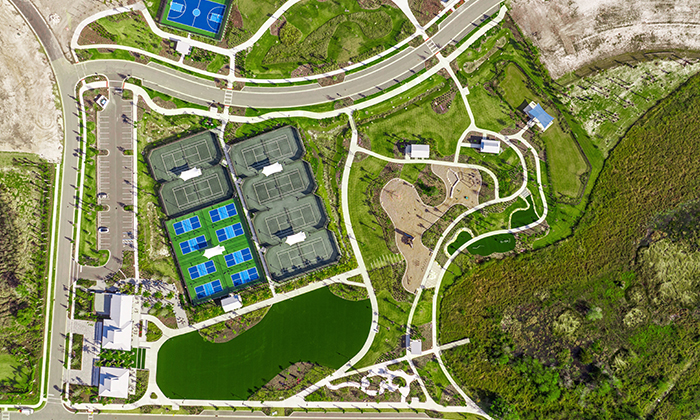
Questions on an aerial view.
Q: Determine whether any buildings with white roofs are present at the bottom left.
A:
Yes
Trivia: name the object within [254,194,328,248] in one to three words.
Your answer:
tennis court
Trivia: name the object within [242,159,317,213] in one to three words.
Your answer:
tennis court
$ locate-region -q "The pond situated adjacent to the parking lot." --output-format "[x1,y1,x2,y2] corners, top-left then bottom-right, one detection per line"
[154,285,372,401]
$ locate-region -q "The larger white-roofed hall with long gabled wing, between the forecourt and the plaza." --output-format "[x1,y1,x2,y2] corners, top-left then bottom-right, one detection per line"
[94,293,135,350]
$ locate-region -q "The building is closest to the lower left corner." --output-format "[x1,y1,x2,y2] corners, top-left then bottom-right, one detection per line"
[98,366,131,398]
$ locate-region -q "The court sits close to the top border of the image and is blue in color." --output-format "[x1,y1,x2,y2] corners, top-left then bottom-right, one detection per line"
[161,0,231,38]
